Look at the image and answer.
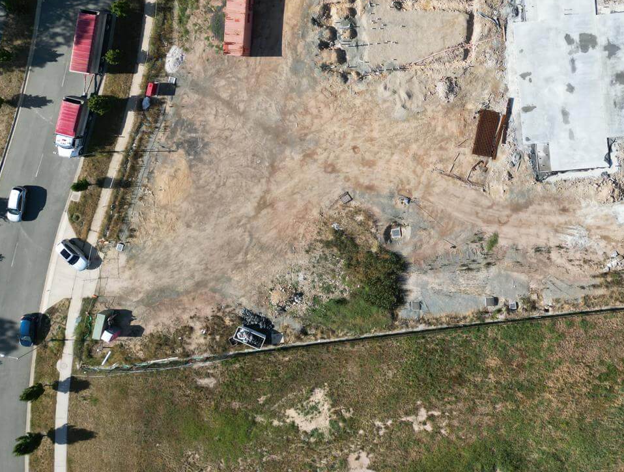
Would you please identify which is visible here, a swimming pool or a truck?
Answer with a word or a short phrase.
truck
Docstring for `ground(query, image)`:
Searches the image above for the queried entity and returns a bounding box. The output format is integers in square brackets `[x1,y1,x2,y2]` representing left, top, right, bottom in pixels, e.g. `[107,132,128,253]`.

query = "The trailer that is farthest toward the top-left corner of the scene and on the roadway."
[69,8,111,94]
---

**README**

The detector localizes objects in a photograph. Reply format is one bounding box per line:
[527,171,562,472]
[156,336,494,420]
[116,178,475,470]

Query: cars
[4,188,26,223]
[57,238,92,273]
[19,312,41,346]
